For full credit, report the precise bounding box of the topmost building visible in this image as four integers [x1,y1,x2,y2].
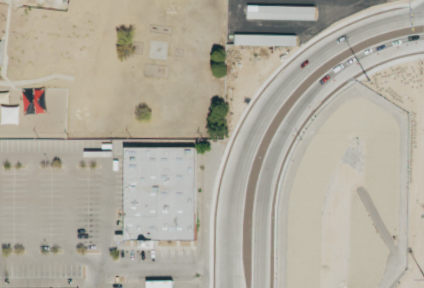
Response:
[246,6,316,21]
